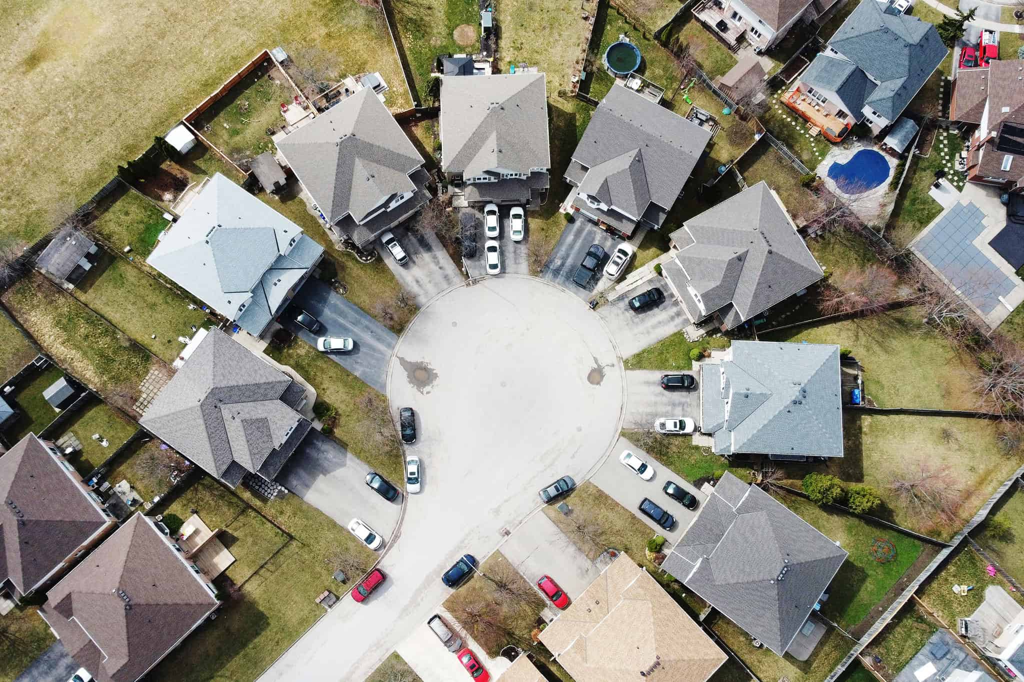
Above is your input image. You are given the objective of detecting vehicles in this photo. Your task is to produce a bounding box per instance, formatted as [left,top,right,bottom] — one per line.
[484,241,501,274]
[380,232,408,266]
[638,496,676,532]
[399,408,417,443]
[538,476,576,507]
[351,568,386,601]
[347,517,383,553]
[425,614,465,654]
[977,27,999,66]
[958,45,978,70]
[663,479,698,511]
[572,245,606,286]
[483,205,499,237]
[508,208,525,241]
[618,447,654,482]
[629,288,664,310]
[318,335,354,352]
[441,554,476,589]
[661,372,695,389]
[536,574,569,610]
[287,303,322,335]
[404,456,422,493]
[656,416,695,435]
[604,244,631,279]
[365,471,400,504]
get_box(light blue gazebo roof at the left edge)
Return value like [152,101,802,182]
[0,393,27,427]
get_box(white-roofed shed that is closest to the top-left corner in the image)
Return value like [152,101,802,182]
[164,124,202,162]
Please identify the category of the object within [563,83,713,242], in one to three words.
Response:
house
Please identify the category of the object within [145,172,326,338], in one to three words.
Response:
house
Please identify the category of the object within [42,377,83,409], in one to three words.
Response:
shed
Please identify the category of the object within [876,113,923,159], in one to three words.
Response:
gazebo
